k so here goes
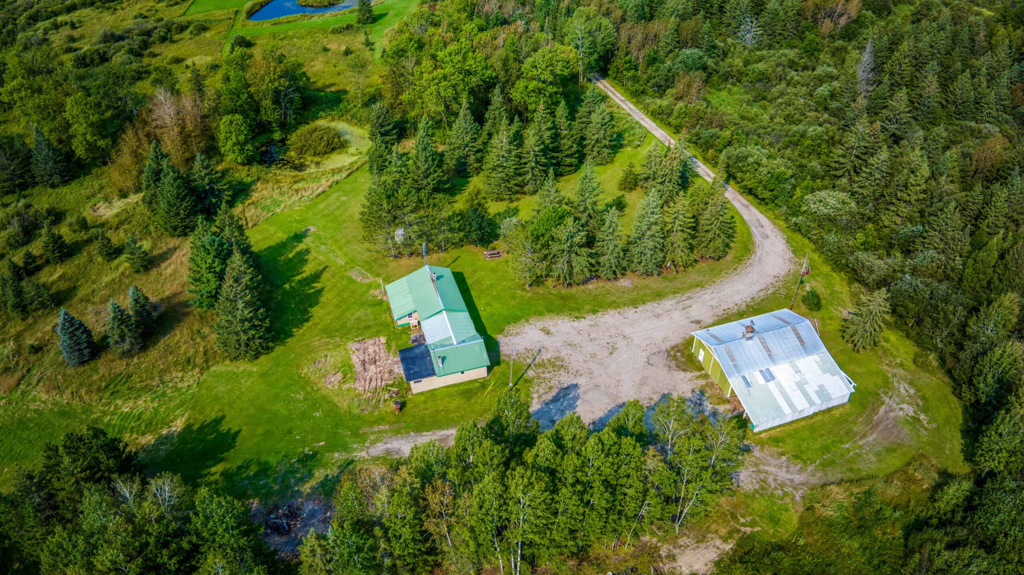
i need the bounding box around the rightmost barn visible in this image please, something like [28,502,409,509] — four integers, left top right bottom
[693,308,854,430]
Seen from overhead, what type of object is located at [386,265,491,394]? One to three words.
house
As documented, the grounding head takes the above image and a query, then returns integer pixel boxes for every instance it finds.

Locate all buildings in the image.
[386,265,491,394]
[693,308,854,430]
